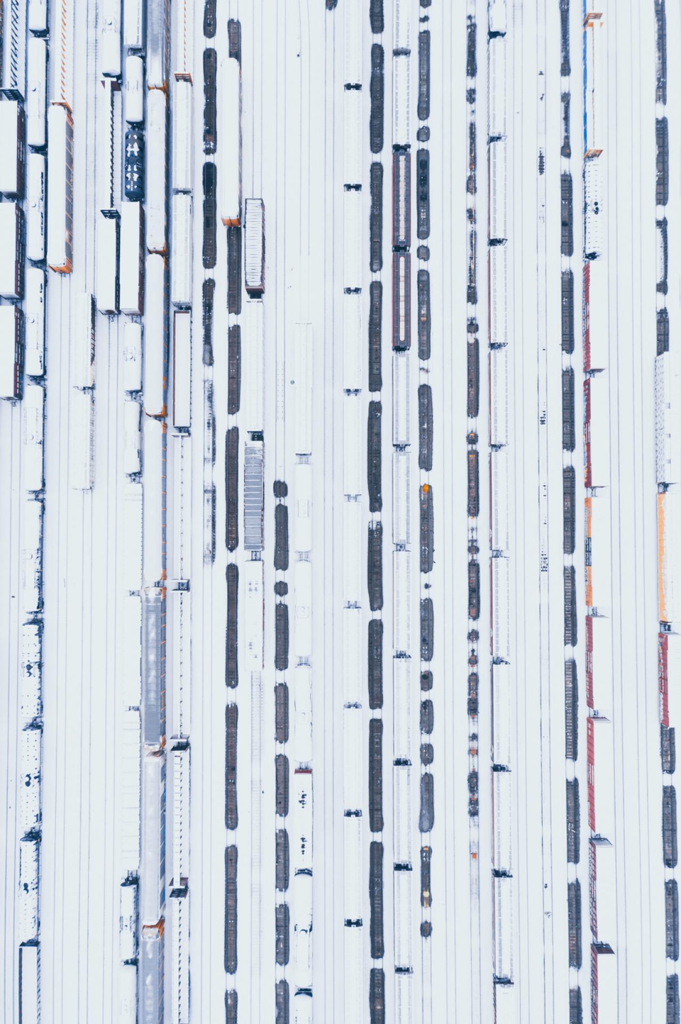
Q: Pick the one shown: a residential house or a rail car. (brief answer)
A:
rail car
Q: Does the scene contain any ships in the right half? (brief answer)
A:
No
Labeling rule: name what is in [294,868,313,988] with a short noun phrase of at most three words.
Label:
rail car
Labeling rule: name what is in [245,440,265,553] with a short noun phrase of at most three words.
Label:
rail car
